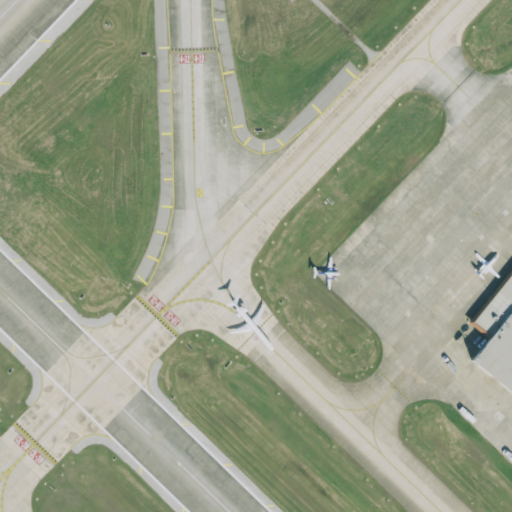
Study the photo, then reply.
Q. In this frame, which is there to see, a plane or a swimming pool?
plane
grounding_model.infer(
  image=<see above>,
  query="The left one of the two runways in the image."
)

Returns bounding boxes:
[0,0,92,84]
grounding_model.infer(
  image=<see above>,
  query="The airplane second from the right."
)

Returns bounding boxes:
[312,257,340,290]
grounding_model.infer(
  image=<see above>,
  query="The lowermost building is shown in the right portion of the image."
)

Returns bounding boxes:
[473,314,512,394]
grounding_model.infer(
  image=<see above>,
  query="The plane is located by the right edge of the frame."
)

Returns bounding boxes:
[475,253,500,279]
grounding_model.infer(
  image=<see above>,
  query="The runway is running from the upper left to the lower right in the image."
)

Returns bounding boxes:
[0,249,275,512]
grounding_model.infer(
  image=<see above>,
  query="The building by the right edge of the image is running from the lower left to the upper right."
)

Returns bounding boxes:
[472,275,512,338]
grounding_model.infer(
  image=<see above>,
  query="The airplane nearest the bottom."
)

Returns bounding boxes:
[226,294,273,350]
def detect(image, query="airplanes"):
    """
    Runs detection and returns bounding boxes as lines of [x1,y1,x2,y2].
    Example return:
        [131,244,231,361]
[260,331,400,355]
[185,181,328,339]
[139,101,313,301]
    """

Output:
[226,294,273,350]
[475,253,500,279]
[312,257,340,290]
